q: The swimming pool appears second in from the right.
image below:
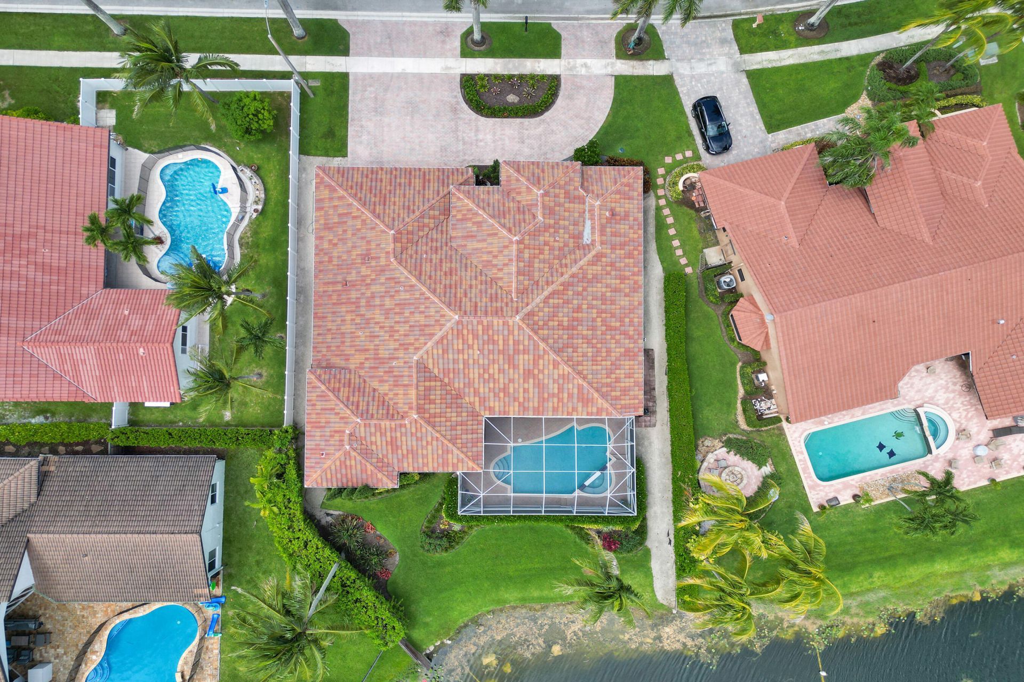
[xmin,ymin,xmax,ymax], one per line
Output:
[462,416,629,505]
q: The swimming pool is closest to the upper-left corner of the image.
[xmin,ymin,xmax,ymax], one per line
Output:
[118,142,252,376]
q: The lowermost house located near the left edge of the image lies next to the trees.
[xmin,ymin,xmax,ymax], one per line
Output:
[0,452,225,682]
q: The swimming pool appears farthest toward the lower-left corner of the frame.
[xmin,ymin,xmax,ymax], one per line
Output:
[9,584,222,682]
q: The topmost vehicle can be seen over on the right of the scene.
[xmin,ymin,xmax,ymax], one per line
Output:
[691,90,732,158]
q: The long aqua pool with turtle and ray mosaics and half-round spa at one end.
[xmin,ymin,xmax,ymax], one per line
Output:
[781,356,1024,514]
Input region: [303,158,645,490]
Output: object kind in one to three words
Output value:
house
